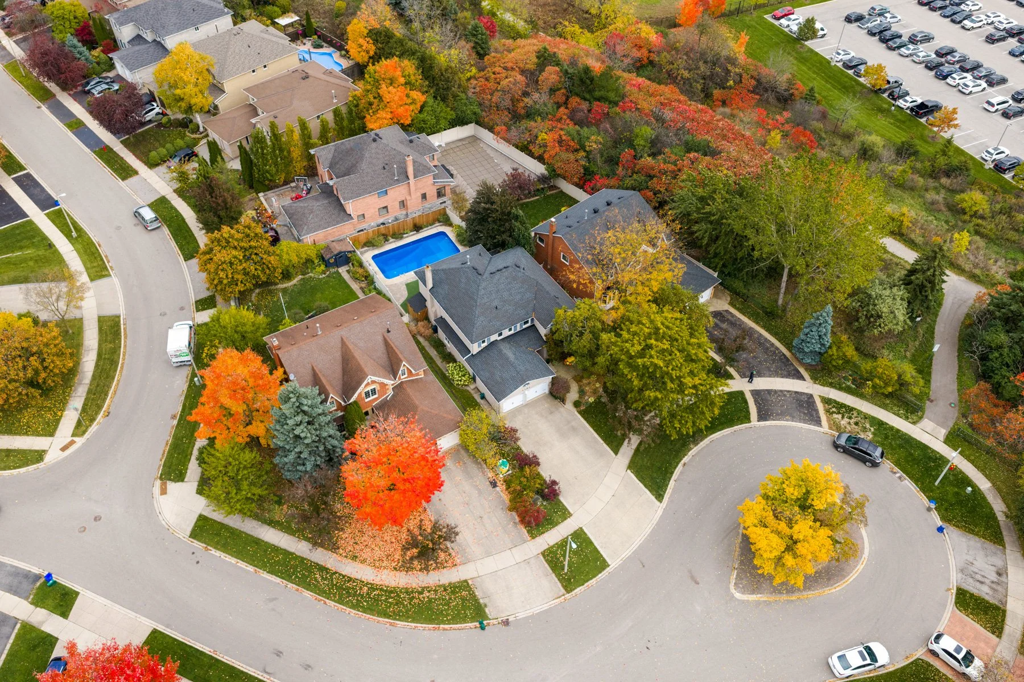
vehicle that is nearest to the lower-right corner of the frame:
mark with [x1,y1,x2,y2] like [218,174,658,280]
[921,623,990,682]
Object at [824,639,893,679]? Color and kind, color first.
white car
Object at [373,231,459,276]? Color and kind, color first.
blue swimming pool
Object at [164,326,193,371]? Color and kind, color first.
white truck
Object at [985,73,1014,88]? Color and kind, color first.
gray car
